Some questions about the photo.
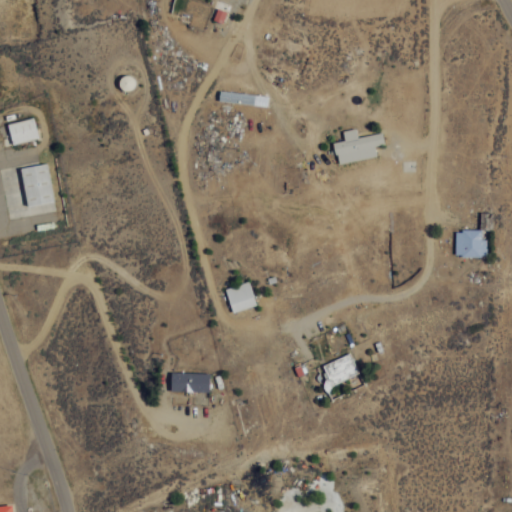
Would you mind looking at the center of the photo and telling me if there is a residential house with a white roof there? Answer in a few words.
Yes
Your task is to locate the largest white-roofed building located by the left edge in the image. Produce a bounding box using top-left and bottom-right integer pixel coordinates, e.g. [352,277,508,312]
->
[22,164,53,206]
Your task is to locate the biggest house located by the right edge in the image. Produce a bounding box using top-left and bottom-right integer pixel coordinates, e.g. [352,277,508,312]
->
[458,230,488,258]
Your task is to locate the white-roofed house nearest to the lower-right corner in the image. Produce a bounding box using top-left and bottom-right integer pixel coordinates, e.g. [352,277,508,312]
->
[322,354,359,392]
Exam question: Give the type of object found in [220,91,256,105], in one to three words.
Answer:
barn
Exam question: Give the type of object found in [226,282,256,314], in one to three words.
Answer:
house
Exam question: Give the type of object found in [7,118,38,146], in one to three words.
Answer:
shed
